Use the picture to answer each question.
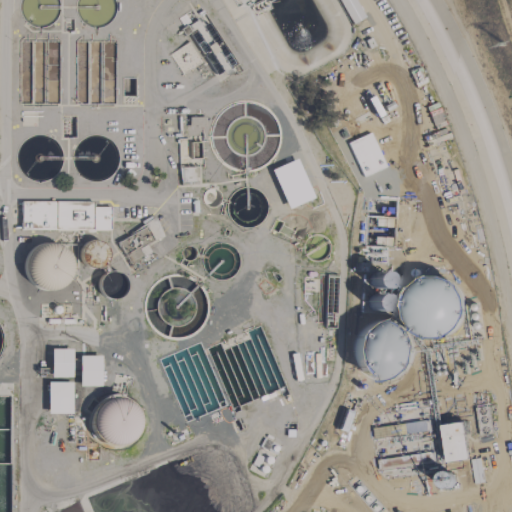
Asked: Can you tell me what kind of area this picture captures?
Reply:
industrial area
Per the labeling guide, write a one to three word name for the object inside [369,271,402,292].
silo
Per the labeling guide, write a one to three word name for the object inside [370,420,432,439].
building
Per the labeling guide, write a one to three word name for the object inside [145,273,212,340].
storage tank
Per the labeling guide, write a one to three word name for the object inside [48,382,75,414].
shed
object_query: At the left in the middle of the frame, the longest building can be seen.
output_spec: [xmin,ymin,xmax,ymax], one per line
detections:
[22,200,112,230]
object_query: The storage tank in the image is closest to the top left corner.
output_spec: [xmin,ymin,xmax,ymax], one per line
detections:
[20,0,70,32]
